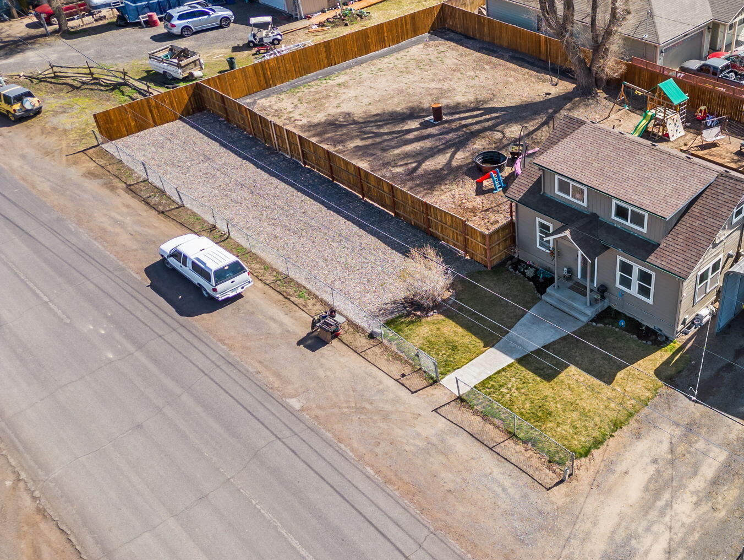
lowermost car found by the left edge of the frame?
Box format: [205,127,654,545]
[0,75,43,117]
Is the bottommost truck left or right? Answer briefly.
left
